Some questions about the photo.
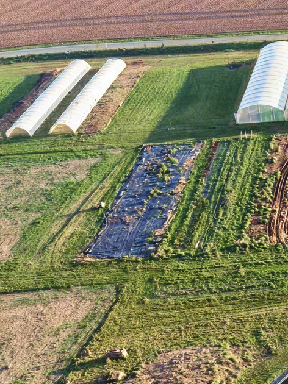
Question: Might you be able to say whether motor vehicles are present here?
No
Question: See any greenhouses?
Yes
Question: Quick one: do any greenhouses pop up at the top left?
Yes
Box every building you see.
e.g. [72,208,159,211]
[234,44,288,123]
[49,55,121,133]
[4,59,82,137]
